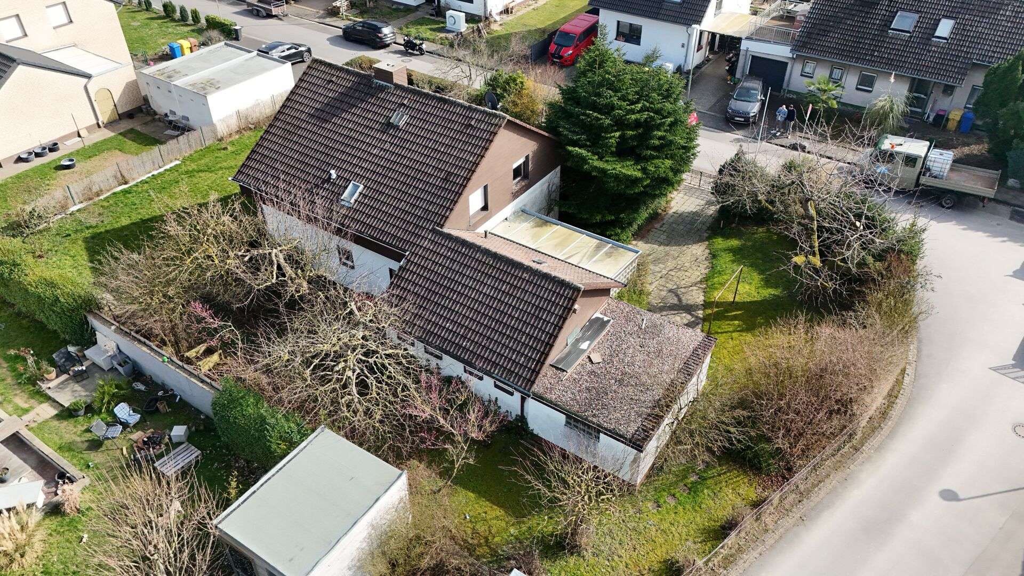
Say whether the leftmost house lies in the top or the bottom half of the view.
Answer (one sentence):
The leftmost house is in the top half of the image.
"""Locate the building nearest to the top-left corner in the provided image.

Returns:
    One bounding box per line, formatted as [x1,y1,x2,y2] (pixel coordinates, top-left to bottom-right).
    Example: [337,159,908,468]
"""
[0,0,148,164]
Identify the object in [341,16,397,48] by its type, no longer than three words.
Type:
car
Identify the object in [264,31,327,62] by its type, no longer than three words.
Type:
car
